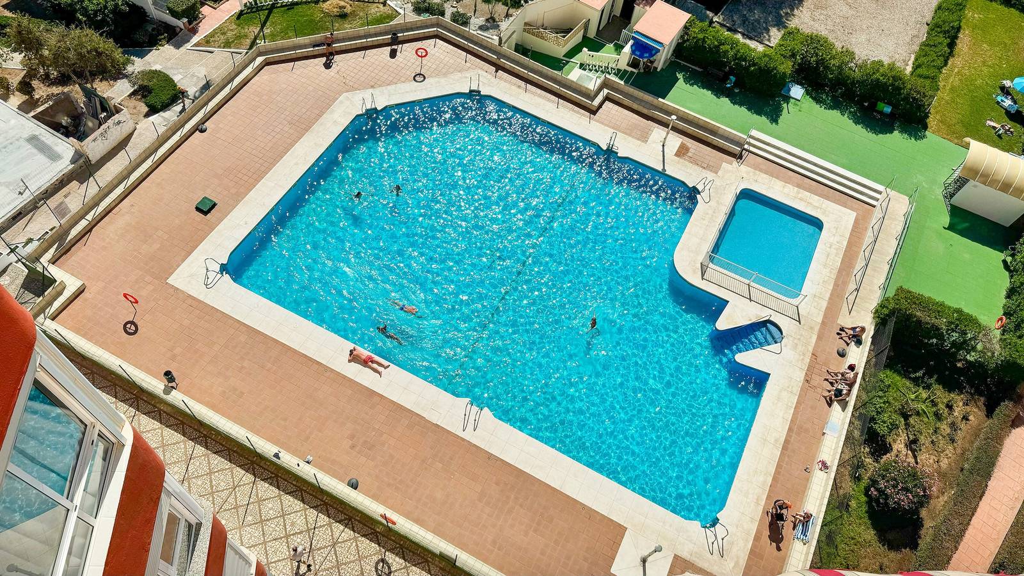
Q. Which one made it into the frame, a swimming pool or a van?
swimming pool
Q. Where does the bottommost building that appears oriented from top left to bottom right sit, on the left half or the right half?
left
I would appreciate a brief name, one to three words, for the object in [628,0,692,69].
building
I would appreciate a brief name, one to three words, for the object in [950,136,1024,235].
building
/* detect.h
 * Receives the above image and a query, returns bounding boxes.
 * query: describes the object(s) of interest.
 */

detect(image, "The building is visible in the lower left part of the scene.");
[0,295,277,576]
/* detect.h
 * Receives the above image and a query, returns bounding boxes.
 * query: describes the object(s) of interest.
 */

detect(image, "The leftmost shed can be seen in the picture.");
[0,100,92,250]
